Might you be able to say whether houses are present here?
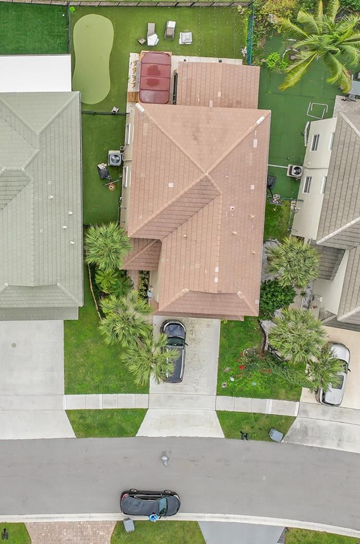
Yes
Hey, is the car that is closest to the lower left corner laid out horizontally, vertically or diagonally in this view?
horizontally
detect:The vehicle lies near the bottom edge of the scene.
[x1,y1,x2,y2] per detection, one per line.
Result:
[120,488,179,519]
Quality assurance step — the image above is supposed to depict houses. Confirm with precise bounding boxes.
[118,62,272,321]
[291,112,360,331]
[0,54,85,321]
